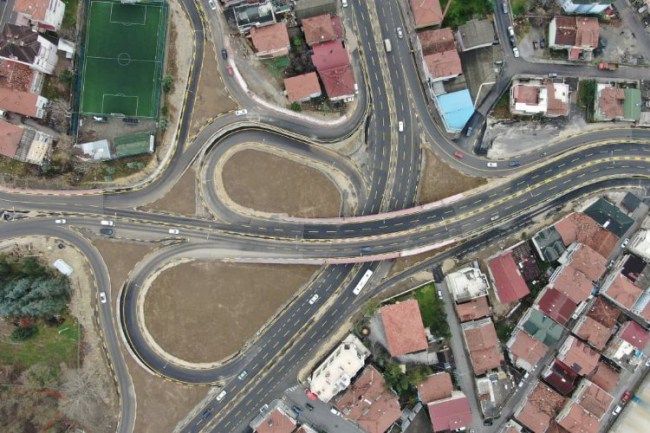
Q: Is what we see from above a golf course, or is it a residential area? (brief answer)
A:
residential area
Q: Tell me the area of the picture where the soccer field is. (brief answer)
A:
top left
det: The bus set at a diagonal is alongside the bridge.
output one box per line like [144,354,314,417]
[352,270,375,296]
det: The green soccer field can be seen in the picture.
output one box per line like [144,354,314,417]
[79,0,162,121]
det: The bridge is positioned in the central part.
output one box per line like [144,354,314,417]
[230,190,470,268]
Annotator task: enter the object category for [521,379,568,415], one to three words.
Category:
house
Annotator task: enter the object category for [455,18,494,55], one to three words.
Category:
shed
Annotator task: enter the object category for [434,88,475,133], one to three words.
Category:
building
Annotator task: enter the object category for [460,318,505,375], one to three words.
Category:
house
